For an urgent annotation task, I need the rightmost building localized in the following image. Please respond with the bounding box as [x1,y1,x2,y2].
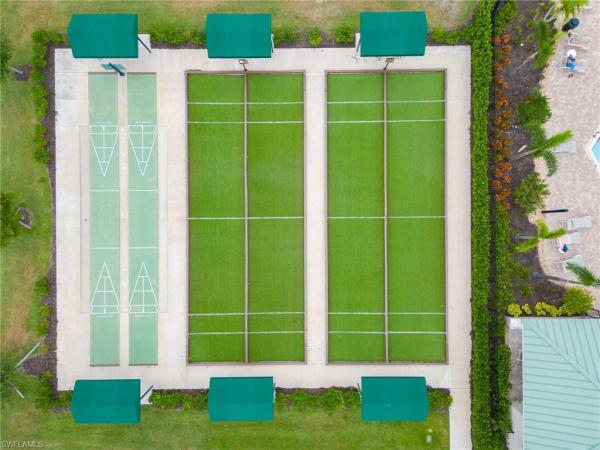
[512,313,600,450]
